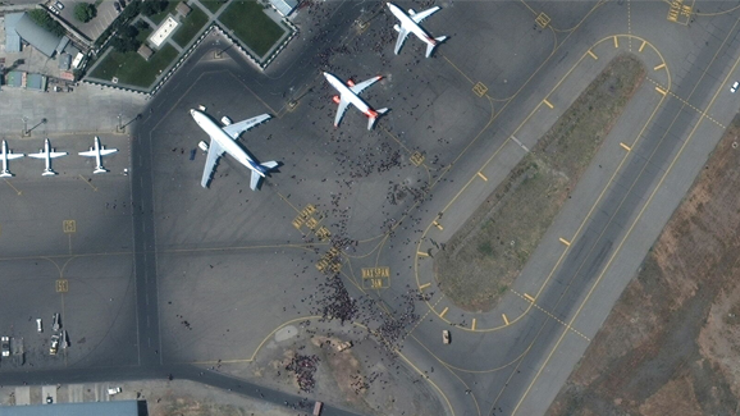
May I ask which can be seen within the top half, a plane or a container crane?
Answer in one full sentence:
Visible within the top half is a plane.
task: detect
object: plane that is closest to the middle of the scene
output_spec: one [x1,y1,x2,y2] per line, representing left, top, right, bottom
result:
[324,72,390,127]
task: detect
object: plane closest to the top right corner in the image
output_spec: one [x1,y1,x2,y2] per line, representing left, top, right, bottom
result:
[387,3,447,56]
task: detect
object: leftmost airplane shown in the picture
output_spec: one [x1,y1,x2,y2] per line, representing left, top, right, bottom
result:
[0,141,24,176]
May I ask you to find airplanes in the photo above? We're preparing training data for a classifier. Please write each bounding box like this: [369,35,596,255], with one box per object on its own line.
[190,109,279,191]
[324,72,390,127]
[27,139,67,176]
[77,136,118,173]
[0,141,24,176]
[387,3,447,56]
